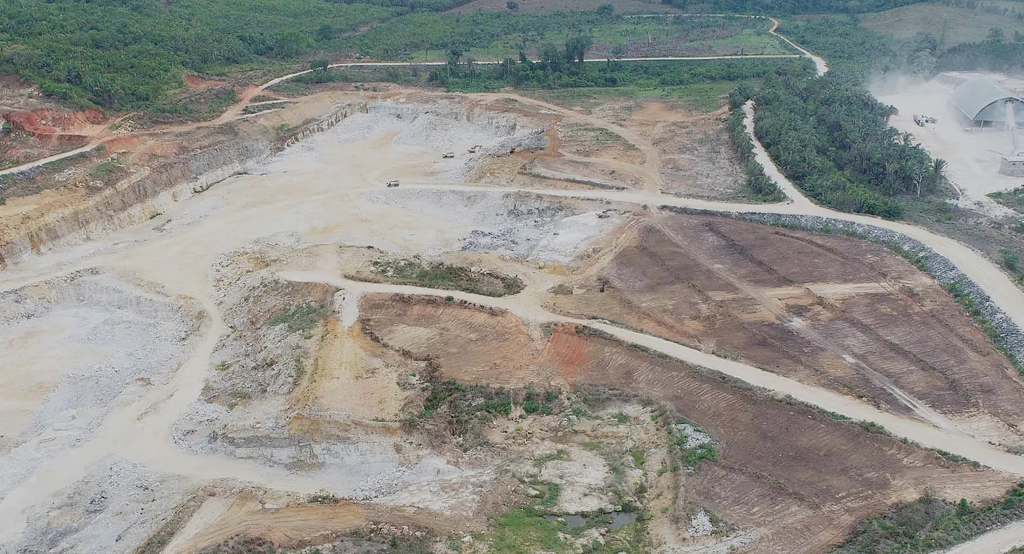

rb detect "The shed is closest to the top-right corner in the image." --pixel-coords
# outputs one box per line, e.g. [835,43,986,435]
[948,77,1024,131]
